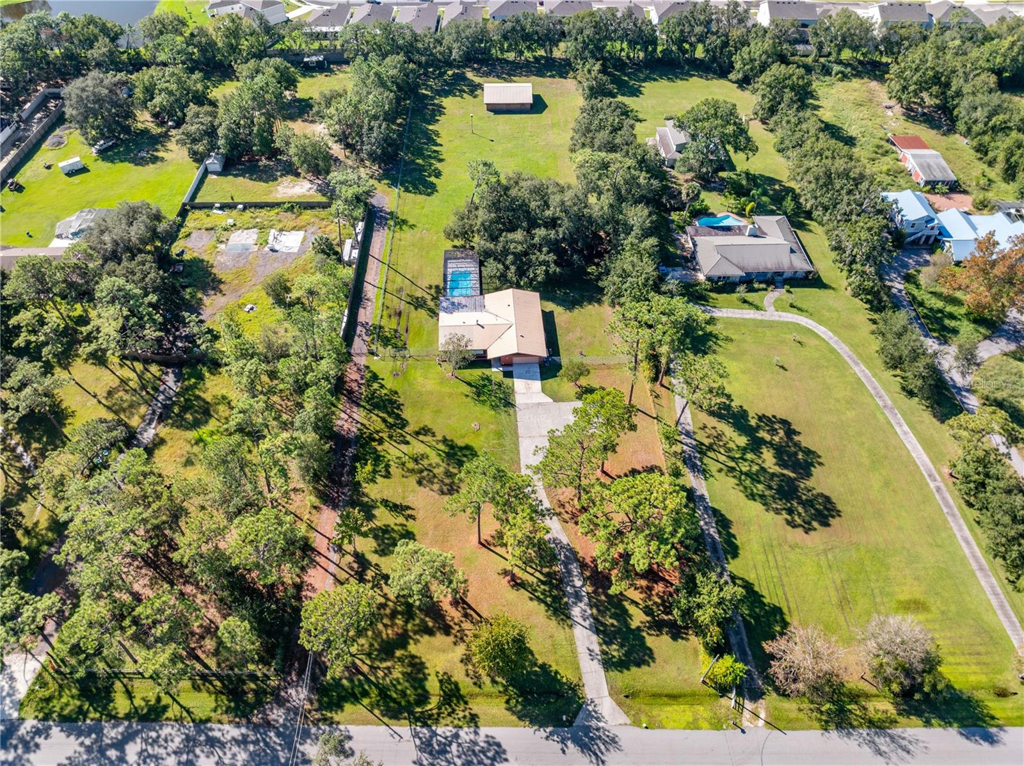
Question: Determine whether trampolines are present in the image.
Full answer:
No, the scene contains no trampoline.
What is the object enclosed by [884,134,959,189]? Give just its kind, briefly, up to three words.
barn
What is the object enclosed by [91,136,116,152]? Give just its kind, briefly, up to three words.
vehicle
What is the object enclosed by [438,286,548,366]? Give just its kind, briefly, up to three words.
house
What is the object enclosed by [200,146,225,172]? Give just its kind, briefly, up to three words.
shed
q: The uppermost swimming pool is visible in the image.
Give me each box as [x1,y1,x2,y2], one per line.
[687,209,748,225]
